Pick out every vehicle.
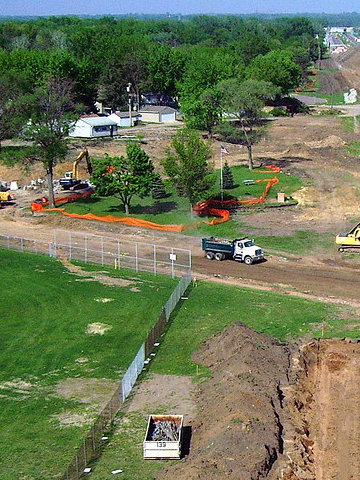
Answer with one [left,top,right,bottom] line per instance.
[334,224,360,254]
[0,190,17,208]
[58,142,102,190]
[192,238,266,268]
